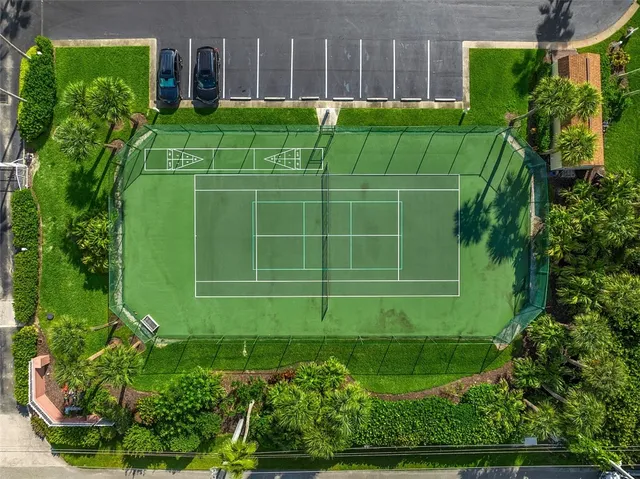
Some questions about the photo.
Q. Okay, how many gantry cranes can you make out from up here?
zero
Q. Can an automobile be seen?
Yes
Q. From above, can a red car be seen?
No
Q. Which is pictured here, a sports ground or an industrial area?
sports ground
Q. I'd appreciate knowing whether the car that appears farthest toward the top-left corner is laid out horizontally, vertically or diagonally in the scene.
vertically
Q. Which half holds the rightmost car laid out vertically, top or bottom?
top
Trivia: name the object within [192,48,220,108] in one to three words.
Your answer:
car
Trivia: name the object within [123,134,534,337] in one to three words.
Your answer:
tennis court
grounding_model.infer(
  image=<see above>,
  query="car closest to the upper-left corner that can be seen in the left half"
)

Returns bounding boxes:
[156,51,183,104]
